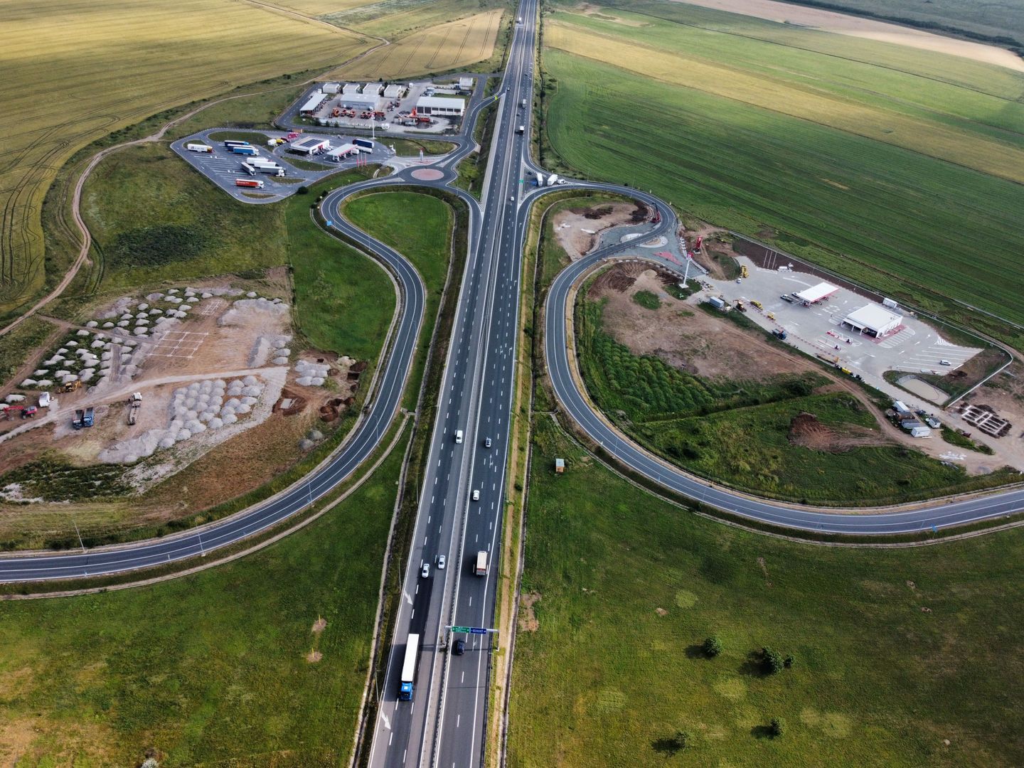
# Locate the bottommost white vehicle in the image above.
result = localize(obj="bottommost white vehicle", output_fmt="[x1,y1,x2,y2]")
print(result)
[398,631,419,698]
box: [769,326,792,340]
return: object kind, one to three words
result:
vehicle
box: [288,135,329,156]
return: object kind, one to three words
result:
building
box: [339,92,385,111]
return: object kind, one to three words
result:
building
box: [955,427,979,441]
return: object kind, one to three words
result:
work vehicle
